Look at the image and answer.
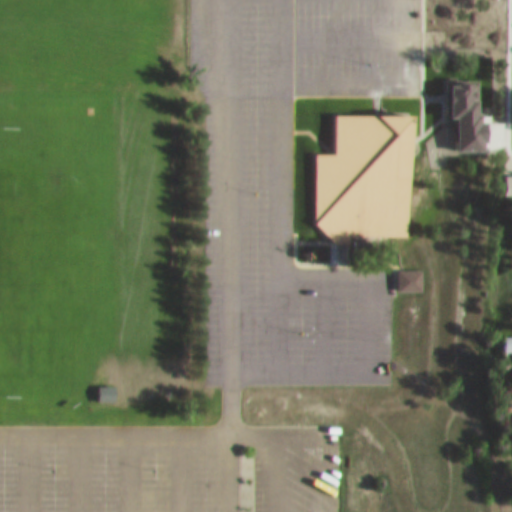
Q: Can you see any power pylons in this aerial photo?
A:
No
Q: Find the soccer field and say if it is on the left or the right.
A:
left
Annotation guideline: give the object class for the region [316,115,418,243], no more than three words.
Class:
building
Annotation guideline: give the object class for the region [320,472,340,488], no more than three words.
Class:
vehicle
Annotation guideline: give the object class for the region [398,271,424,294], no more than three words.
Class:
building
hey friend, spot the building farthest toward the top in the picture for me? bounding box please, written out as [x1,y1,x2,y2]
[452,81,491,152]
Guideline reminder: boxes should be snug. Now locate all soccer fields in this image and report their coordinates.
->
[0,128,100,398]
